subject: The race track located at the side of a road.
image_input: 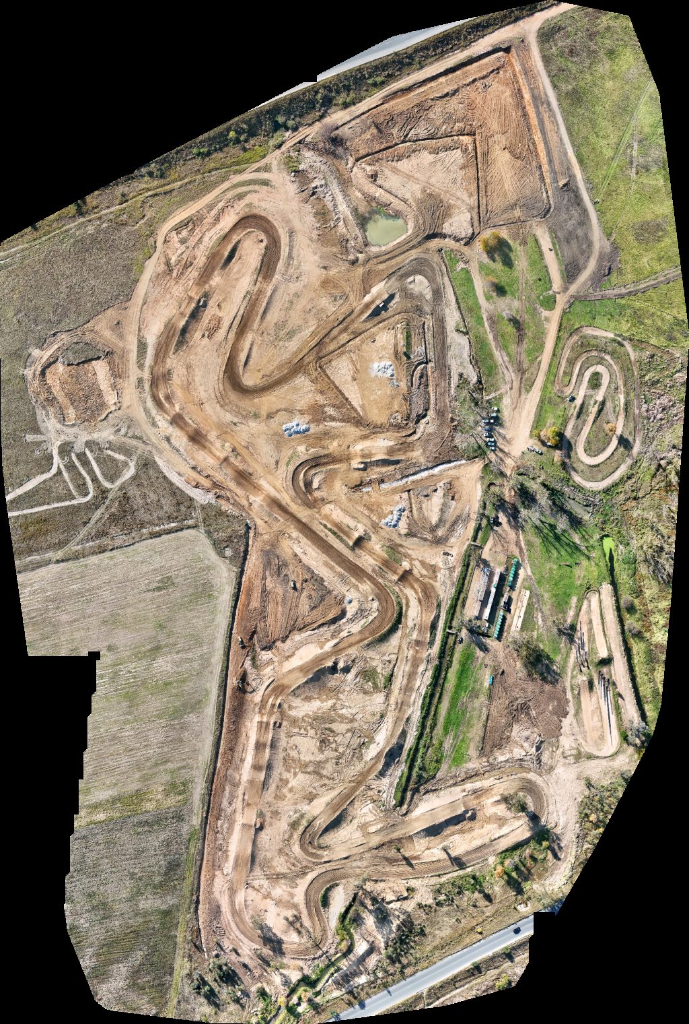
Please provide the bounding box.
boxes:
[148,211,553,962]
